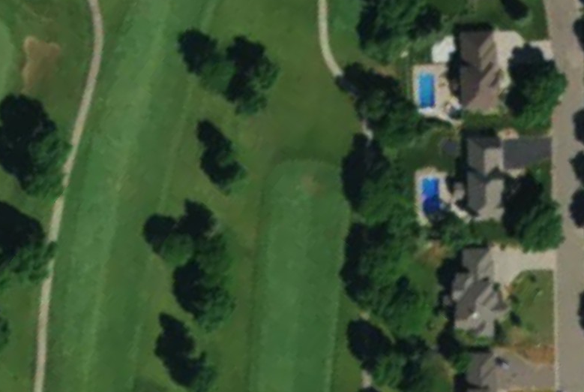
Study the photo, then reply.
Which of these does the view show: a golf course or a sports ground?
golf course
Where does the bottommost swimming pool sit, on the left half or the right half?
right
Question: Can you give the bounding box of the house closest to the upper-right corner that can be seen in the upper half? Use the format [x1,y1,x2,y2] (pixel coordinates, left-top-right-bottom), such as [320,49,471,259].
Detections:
[461,31,508,111]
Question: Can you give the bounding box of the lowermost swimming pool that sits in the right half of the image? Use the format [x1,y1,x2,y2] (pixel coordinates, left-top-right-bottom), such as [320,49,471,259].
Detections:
[422,175,442,216]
